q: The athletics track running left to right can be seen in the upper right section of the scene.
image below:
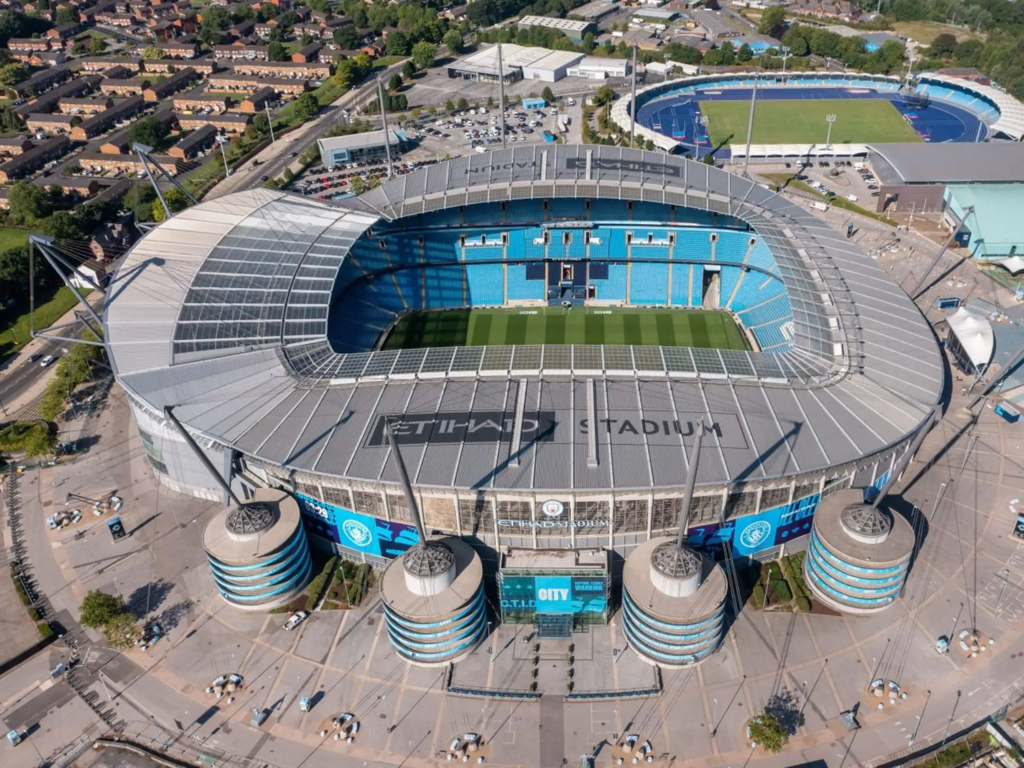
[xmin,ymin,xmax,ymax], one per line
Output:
[632,93,991,157]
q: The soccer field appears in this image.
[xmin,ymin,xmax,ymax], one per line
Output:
[369,306,763,380]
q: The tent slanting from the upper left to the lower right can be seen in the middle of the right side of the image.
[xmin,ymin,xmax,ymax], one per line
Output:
[936,307,1016,391]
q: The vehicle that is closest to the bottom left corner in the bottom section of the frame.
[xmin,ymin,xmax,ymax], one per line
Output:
[282,611,307,628]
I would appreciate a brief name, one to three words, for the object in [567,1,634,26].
building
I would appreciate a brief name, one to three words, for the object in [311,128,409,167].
building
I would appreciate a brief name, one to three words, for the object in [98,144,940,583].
stadium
